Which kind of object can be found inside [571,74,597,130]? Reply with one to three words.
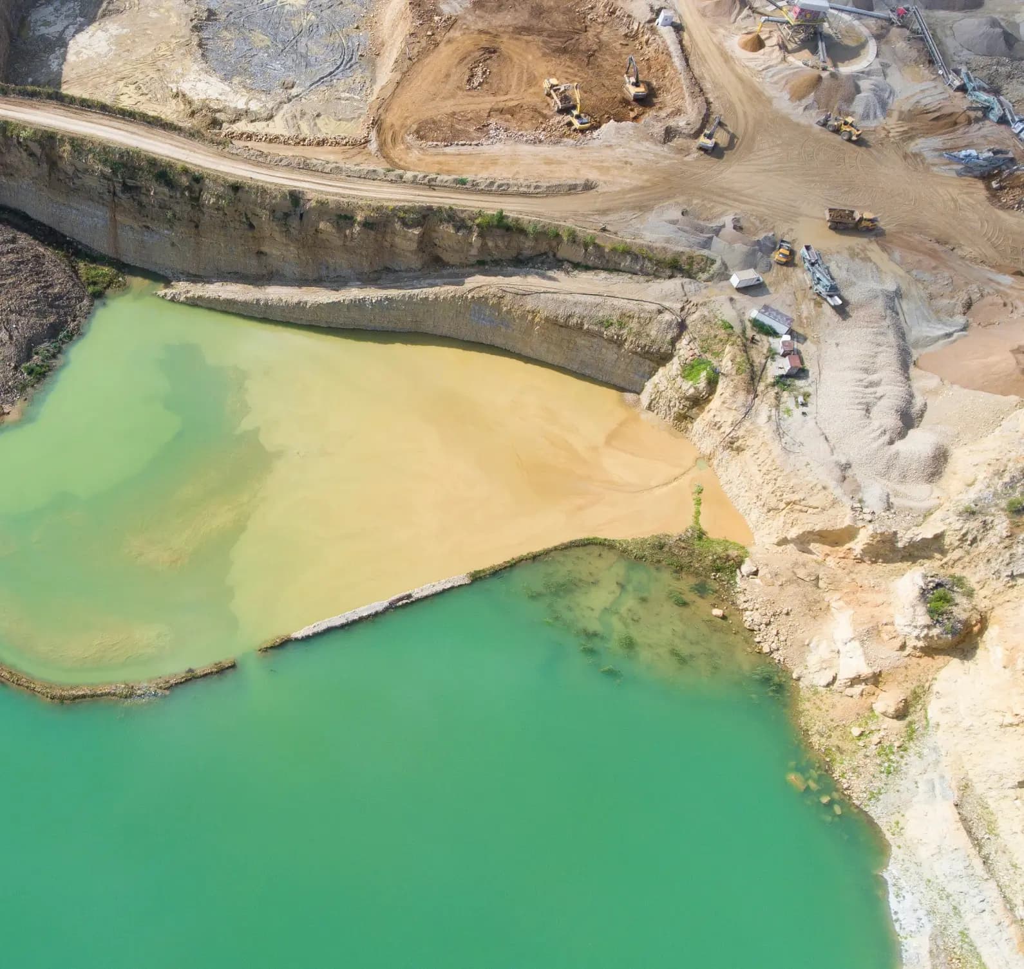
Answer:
work vehicle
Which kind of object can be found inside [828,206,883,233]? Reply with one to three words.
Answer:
truck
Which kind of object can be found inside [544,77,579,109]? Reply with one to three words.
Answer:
truck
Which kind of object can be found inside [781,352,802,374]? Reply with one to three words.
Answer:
shed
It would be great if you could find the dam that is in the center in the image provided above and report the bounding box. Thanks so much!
[257,481,761,652]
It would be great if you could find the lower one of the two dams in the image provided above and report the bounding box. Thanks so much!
[0,658,240,702]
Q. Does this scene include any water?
Yes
